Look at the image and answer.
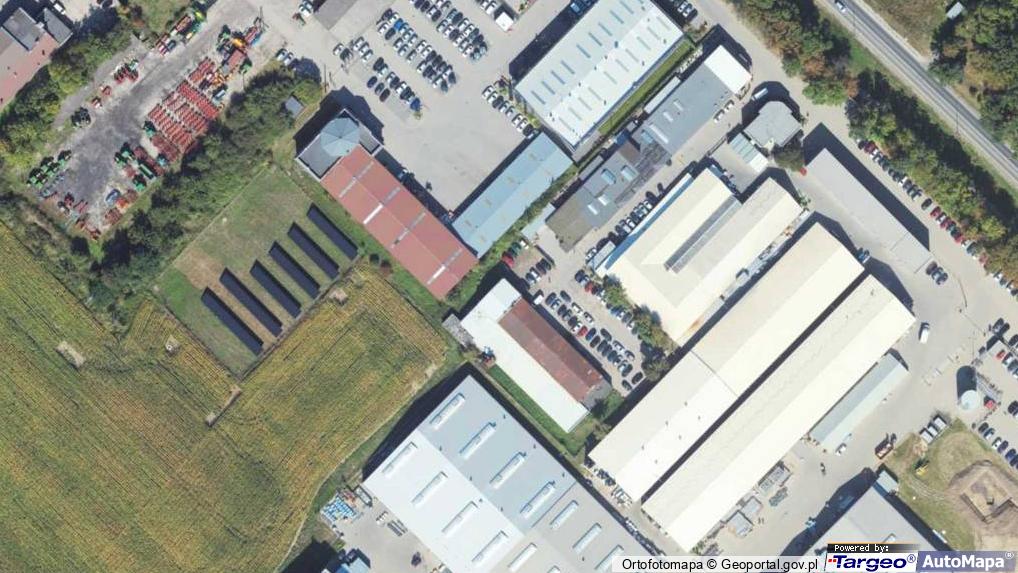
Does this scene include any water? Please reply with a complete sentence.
No, there's no water in this view.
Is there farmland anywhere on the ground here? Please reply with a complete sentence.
Yes, some farmland is visible.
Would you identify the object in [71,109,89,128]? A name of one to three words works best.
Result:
work vehicle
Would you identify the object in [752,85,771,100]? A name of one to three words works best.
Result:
vehicle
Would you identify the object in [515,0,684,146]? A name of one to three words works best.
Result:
warehouse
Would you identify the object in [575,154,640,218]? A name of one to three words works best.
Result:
building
